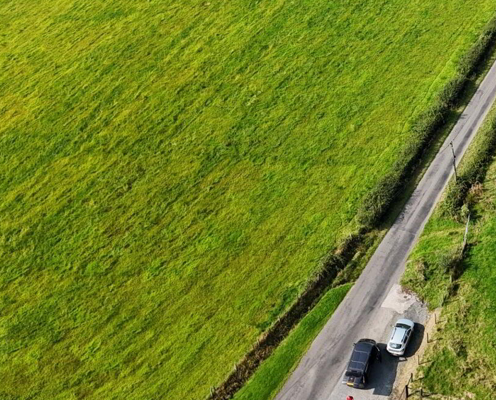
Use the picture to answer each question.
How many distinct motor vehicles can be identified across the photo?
2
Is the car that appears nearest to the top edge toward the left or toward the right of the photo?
right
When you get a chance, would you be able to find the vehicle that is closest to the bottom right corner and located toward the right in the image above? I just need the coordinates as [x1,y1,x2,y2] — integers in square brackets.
[385,319,415,358]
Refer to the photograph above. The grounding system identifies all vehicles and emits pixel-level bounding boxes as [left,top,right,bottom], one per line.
[340,338,379,386]
[385,319,415,358]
